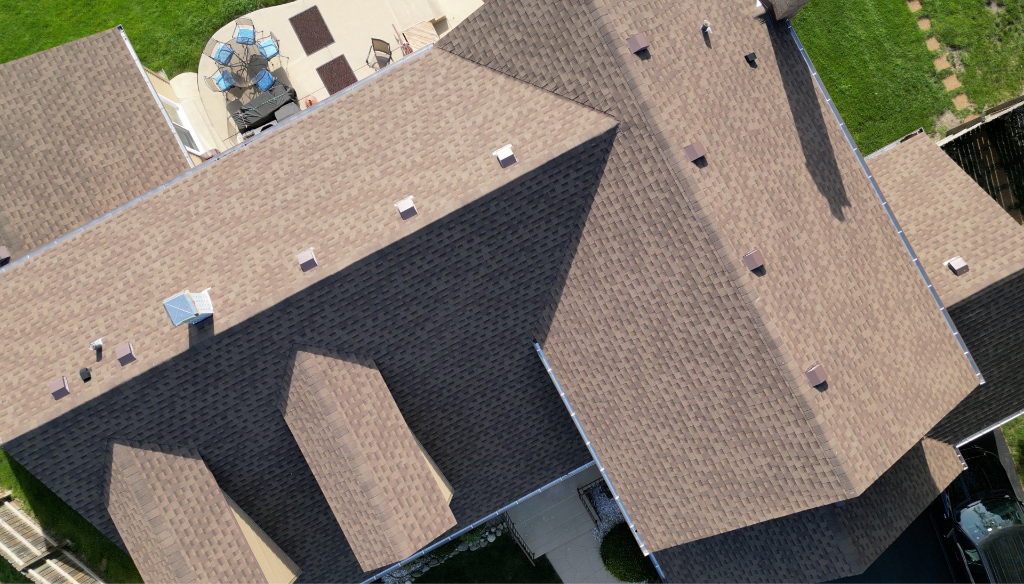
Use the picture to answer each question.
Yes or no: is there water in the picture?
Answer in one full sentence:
No, the picture contains no water.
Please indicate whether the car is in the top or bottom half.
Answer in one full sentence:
It is in the bottom half that the car appears.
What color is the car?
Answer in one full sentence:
The car looks black in the image.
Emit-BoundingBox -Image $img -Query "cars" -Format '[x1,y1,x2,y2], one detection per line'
[932,440,1024,584]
